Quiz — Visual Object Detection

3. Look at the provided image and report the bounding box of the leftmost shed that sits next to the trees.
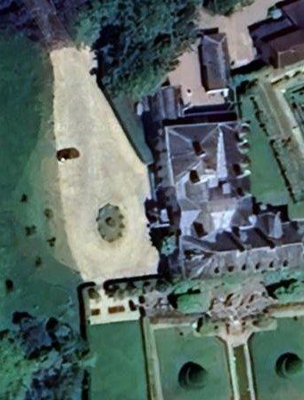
[145,86,192,122]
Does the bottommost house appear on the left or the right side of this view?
right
